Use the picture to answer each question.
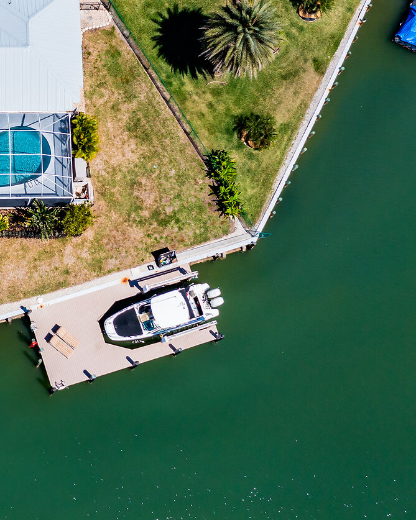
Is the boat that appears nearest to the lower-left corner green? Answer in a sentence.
No, the boat that appears nearest to the lower-left corner is white.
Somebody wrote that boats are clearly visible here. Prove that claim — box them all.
[104,286,221,336]
[390,5,416,52]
